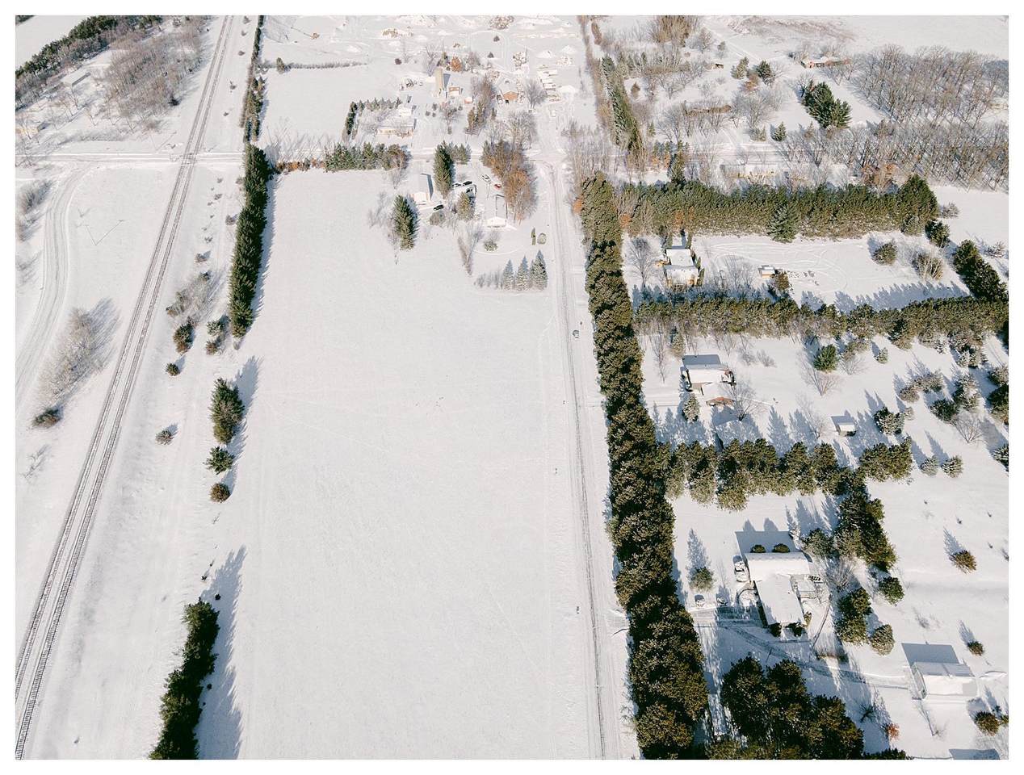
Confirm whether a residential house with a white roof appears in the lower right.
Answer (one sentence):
Yes, a residential house with a white roof appears in the lower right.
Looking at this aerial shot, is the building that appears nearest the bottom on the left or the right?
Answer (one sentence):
The building that appears nearest the bottom sits on the right side.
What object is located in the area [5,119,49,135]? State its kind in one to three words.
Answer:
house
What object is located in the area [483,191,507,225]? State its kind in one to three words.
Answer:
house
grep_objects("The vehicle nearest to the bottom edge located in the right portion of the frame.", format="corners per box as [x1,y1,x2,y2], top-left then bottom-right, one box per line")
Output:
[732,558,746,581]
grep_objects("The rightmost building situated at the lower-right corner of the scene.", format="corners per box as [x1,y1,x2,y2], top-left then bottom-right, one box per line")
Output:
[913,664,979,700]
